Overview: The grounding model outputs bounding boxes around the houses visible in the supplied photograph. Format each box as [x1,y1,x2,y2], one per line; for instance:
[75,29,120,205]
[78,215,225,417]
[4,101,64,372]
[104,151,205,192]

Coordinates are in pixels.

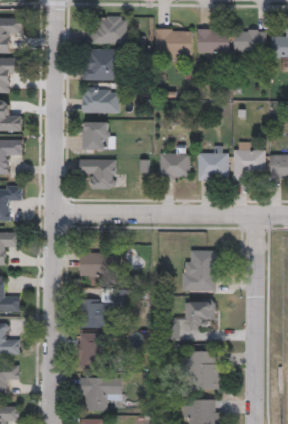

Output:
[0,363,19,394]
[82,88,120,114]
[0,140,22,176]
[0,187,22,222]
[156,29,193,60]
[161,154,190,178]
[83,50,114,81]
[234,30,266,52]
[0,233,16,266]
[80,253,105,286]
[0,324,20,356]
[197,30,230,54]
[234,150,266,182]
[92,16,127,44]
[0,100,22,132]
[80,332,96,371]
[270,155,288,178]
[0,18,22,53]
[198,146,230,181]
[80,379,122,413]
[172,302,215,342]
[183,250,215,292]
[83,122,108,150]
[192,352,219,391]
[0,407,18,424]
[82,300,104,329]
[0,58,14,94]
[79,160,116,190]
[273,26,288,74]
[184,401,219,424]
